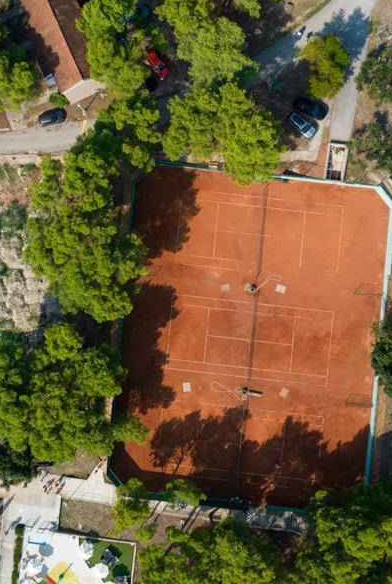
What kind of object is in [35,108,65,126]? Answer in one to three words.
car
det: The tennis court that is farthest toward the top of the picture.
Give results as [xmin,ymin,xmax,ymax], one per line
[130,163,392,288]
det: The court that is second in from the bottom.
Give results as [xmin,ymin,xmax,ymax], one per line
[115,260,387,392]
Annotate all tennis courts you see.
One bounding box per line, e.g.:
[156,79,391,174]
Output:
[109,365,378,509]
[115,260,387,392]
[130,163,392,288]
